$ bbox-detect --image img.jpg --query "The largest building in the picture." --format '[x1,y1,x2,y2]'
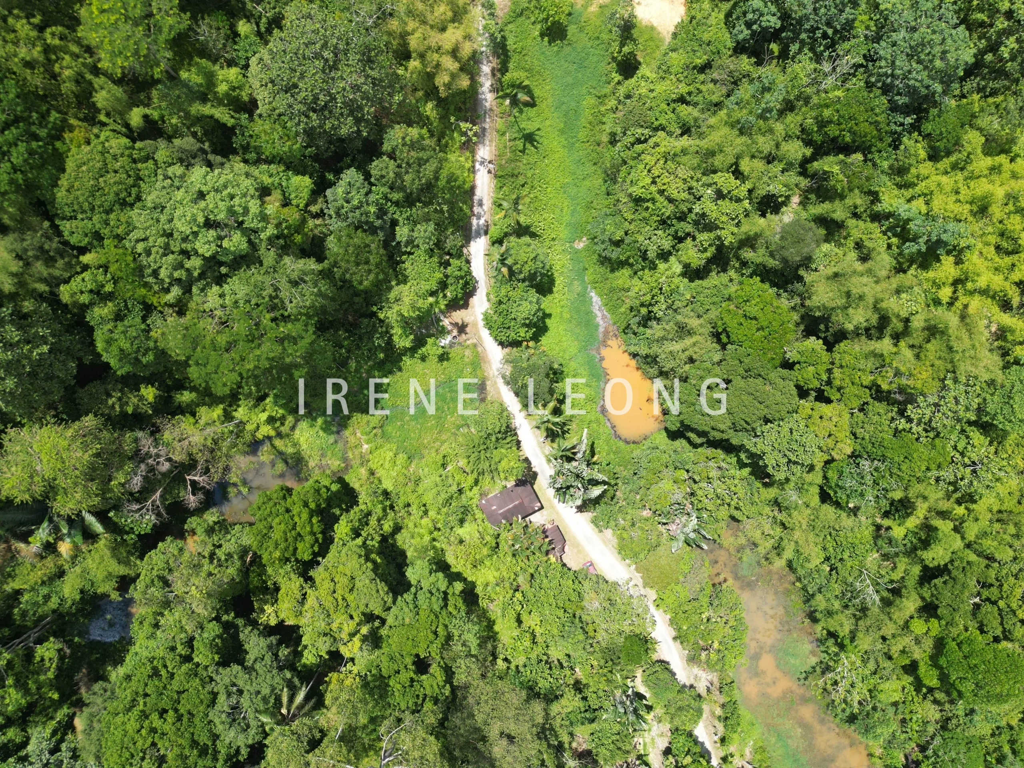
[479,476,544,532]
